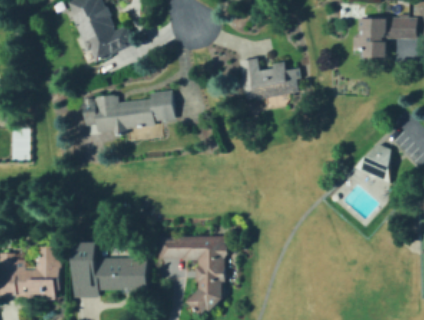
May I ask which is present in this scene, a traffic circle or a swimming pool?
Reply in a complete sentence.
It is a swimming pool that can be seen here.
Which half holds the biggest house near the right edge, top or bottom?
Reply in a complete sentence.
Seen from above, the biggest house near the right edge lies in the top half of the view.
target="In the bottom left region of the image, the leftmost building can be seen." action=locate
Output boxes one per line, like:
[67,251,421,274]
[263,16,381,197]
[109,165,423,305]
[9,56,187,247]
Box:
[0,244,55,300]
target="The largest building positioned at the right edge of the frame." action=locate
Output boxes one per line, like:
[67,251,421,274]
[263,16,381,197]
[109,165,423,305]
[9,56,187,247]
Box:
[354,16,418,59]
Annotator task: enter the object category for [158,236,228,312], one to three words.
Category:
house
